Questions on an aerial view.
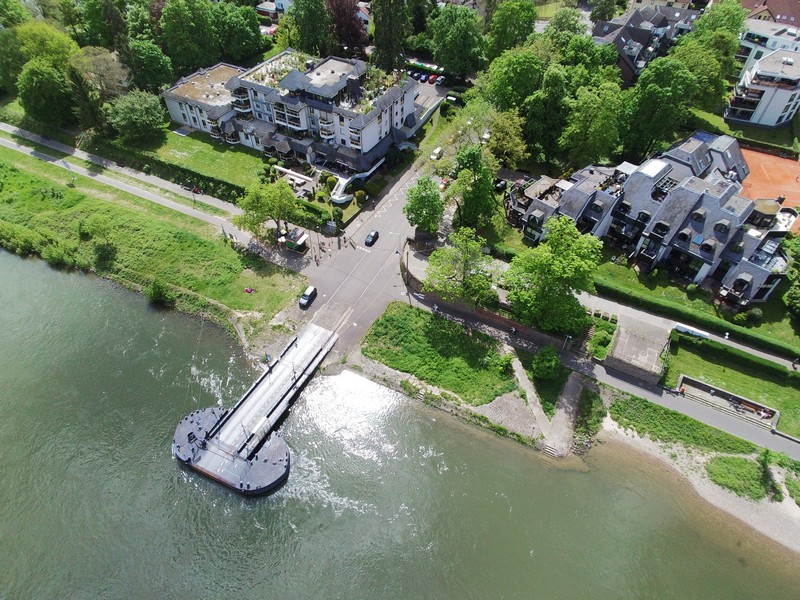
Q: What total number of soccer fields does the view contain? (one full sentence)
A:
The photo contains no soccer fields.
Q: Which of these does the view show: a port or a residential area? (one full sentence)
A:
The area seen from above is a residential area.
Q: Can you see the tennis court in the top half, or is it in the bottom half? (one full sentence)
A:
The tennis court sits in the top half of the picture.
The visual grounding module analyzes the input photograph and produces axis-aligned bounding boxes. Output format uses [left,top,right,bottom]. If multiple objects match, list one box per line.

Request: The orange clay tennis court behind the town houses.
[740,153,800,206]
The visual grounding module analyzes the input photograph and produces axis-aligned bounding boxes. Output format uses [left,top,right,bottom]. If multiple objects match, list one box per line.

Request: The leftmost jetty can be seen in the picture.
[172,406,291,495]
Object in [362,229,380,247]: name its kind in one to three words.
car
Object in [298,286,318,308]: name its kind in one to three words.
car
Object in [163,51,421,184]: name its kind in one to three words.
building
